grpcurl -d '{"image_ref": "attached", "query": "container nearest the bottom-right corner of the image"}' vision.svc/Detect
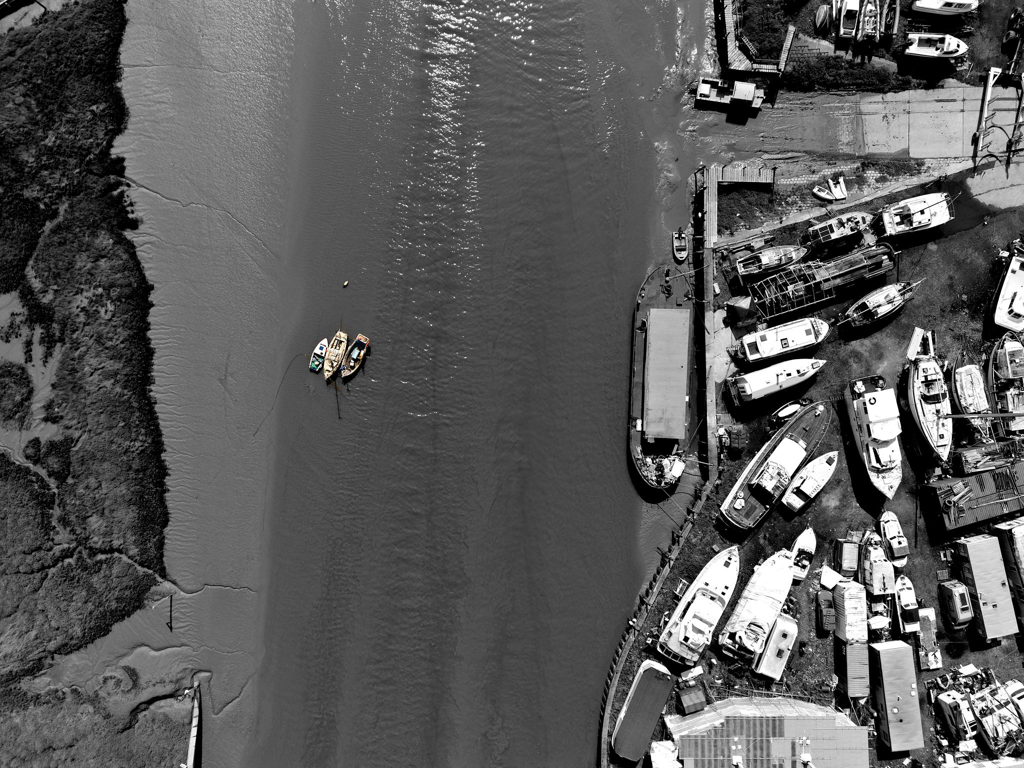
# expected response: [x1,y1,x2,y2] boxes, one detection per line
[836,636,870,698]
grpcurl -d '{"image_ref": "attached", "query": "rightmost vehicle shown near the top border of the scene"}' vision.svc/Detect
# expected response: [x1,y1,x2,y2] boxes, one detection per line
[1002,4,1024,74]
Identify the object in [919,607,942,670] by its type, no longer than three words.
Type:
trailer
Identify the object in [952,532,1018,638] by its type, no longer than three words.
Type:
house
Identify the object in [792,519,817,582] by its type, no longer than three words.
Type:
boat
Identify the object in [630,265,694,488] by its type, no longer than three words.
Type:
ship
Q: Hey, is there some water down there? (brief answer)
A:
Yes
